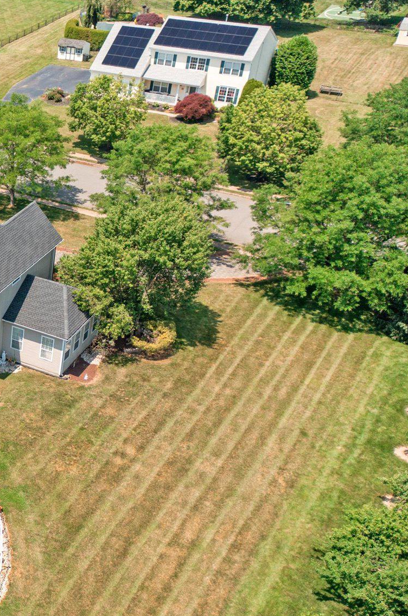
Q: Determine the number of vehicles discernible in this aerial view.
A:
0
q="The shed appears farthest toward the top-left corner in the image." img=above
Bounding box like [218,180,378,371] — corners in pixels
[59,39,89,61]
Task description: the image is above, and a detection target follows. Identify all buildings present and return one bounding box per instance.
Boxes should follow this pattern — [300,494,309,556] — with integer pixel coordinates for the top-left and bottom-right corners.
[94,11,278,105]
[59,39,89,61]
[0,201,105,376]
[396,13,408,47]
